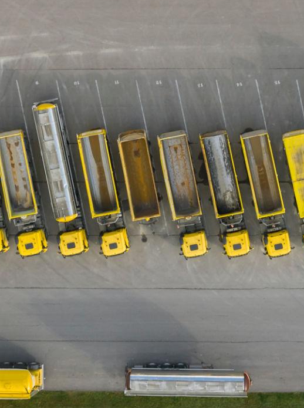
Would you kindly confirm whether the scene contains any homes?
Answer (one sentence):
No, this view has no home in it.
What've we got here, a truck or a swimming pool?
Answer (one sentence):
The one in the frame is a truck.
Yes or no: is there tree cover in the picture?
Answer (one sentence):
No, there's no tree cover in this view.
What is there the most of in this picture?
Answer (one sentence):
The largest share of the image is taken up by paved ground.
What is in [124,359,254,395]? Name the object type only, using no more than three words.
trailer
